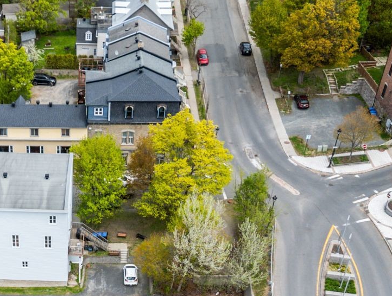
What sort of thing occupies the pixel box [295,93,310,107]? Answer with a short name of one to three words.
car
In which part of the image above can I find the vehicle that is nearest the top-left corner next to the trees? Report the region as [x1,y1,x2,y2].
[32,73,57,86]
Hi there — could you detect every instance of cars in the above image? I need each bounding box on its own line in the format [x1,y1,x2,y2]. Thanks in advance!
[295,93,310,107]
[240,40,253,53]
[197,49,210,62]
[32,73,57,86]
[121,261,139,287]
